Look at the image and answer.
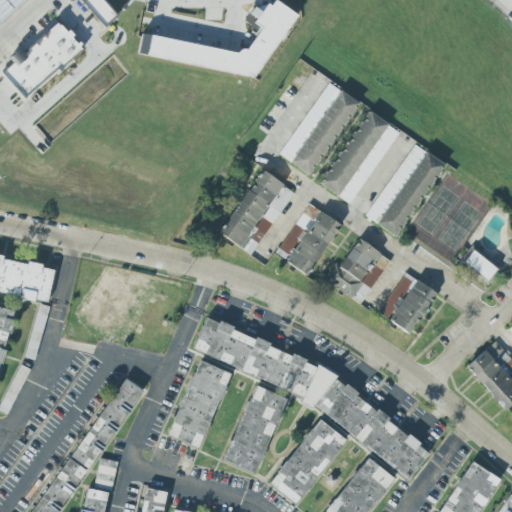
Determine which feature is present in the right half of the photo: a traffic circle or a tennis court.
tennis court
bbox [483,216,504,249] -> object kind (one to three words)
swimming pool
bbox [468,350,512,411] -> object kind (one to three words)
house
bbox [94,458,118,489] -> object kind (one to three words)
house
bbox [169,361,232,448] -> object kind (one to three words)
building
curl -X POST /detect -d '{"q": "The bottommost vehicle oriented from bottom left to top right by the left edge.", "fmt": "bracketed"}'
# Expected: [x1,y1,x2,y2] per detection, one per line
[25,478,44,500]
